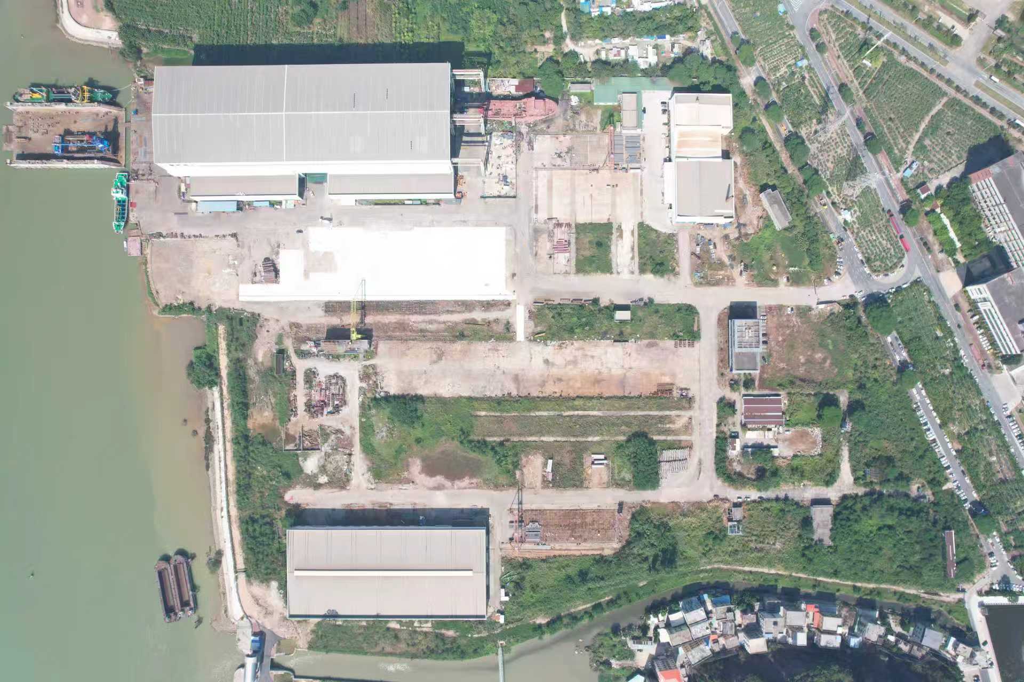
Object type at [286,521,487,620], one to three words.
shed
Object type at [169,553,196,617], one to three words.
ship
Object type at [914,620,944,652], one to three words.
house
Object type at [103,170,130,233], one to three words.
ship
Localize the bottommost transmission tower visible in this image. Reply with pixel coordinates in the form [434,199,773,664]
[839,173,883,201]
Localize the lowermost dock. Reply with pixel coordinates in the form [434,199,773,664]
[128,213,142,256]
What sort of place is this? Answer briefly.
port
